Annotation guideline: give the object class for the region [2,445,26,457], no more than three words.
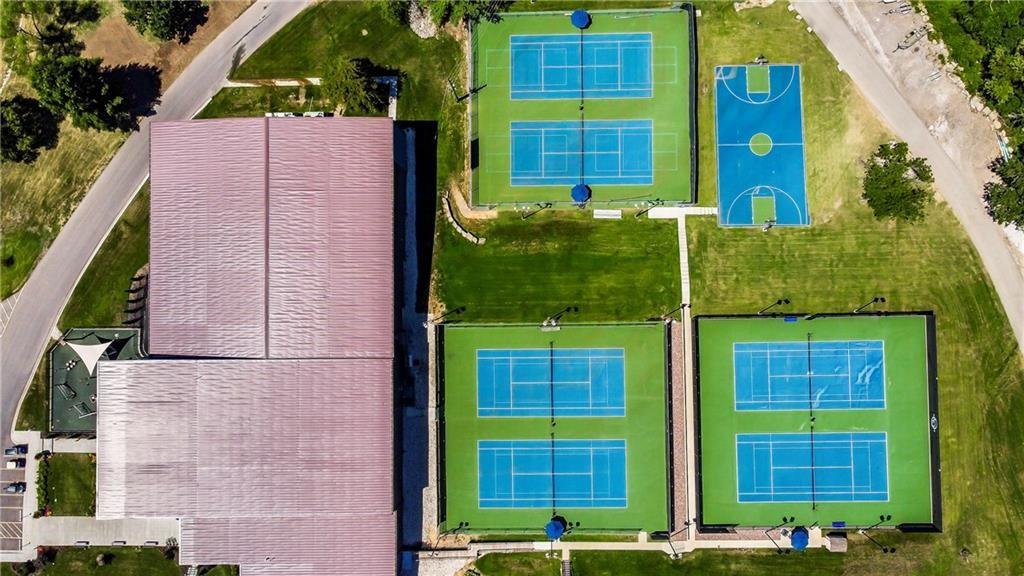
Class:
vehicle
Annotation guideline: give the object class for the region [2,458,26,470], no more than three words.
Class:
vehicle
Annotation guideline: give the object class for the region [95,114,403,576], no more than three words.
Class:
building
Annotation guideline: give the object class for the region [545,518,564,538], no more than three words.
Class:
umbrella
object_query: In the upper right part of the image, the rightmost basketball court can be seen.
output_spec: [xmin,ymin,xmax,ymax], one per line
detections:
[715,63,811,227]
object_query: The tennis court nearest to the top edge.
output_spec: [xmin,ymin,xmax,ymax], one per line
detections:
[471,12,690,110]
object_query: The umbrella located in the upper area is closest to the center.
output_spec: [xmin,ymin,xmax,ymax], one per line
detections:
[571,184,590,203]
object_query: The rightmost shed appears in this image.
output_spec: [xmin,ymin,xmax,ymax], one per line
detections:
[832,535,854,556]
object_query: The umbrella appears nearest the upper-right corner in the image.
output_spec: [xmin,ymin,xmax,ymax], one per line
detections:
[571,10,590,30]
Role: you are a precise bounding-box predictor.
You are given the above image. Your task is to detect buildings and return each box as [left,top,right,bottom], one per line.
[95,114,403,576]
[832,535,854,556]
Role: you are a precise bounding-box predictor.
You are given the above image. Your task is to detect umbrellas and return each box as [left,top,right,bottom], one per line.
[545,518,564,538]
[571,184,590,203]
[571,10,590,30]
[788,527,808,547]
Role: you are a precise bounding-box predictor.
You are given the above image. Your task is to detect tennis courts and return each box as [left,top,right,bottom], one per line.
[696,317,929,422]
[696,420,932,527]
[440,324,667,429]
[471,12,690,110]
[472,108,691,206]
[442,428,669,532]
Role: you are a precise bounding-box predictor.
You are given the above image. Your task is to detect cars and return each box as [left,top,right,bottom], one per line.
[0,483,25,496]
[2,458,26,470]
[2,445,26,457]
